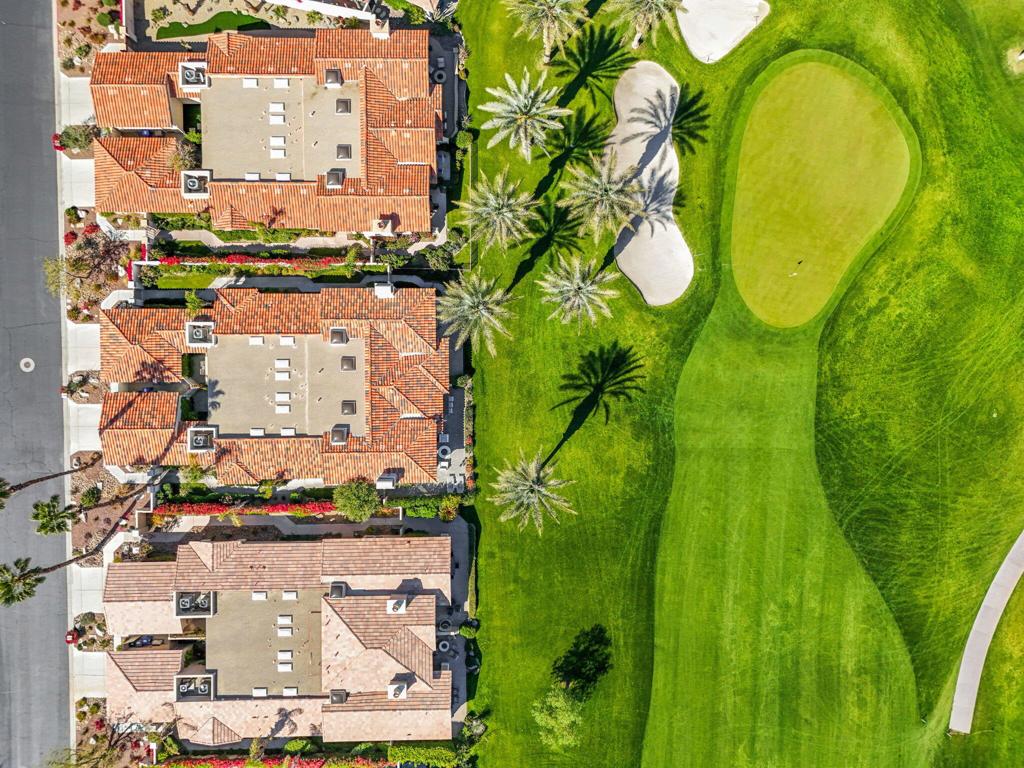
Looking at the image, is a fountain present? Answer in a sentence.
No, no fountain is visible in the scene.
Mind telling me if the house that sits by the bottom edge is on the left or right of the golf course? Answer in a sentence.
In the image, the house that sits by the bottom edge sits on the left side of the golf course.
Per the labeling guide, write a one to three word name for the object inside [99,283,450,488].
house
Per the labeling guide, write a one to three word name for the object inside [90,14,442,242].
house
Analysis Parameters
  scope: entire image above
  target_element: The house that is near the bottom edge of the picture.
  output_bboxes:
[102,536,452,745]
